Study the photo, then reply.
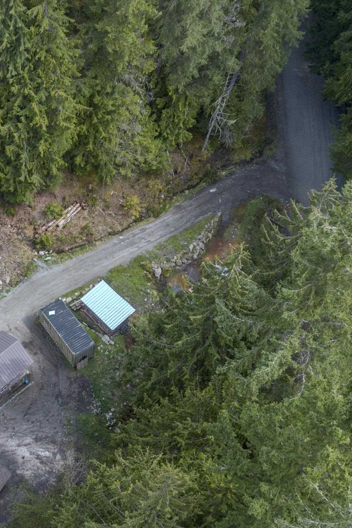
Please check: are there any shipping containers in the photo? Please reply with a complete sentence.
Yes, the picture does show a shipping container.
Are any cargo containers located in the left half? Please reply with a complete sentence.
Yes, the scene does show a cargo container in the left half.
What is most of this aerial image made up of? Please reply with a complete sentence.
For the most part, this view shows trees.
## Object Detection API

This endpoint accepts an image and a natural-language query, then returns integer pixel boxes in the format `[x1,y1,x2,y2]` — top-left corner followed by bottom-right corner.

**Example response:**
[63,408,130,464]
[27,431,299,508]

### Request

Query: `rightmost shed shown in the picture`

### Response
[78,278,137,337]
